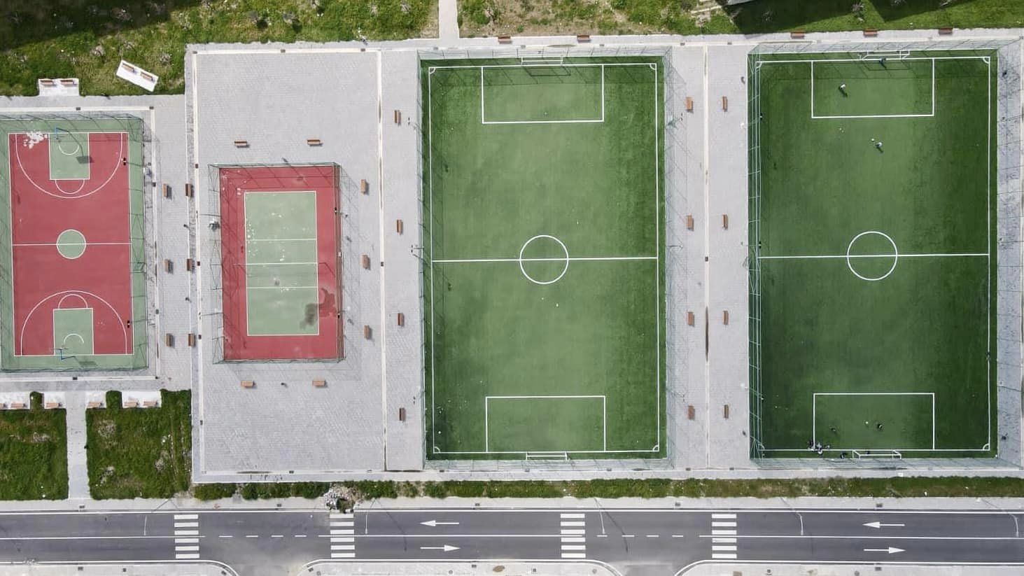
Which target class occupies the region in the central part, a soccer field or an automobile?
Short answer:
soccer field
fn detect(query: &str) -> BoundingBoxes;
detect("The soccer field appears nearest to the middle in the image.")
[420,55,668,460]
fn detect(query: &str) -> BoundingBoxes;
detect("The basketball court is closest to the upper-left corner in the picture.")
[0,118,148,370]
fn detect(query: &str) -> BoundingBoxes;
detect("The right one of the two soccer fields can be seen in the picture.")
[748,48,998,460]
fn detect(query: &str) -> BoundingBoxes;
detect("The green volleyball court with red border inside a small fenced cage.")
[219,166,344,361]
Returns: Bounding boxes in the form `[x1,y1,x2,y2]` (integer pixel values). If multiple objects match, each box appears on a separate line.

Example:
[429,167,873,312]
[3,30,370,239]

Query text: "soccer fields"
[420,55,668,460]
[748,48,998,460]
